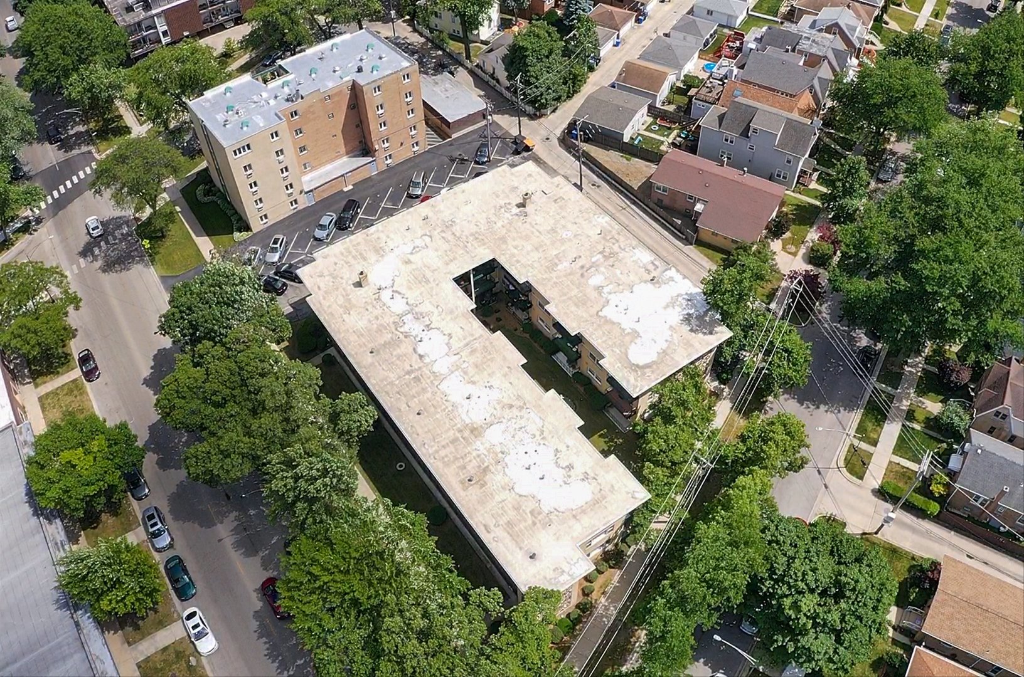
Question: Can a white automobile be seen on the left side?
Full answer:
Yes, a white automobile appears on the left side.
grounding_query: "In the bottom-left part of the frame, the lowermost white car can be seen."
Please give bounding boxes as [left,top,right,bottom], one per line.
[181,605,219,661]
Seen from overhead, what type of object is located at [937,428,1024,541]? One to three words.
house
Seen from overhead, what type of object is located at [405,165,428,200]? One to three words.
vehicle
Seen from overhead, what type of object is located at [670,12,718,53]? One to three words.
building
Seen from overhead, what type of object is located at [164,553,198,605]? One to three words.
car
